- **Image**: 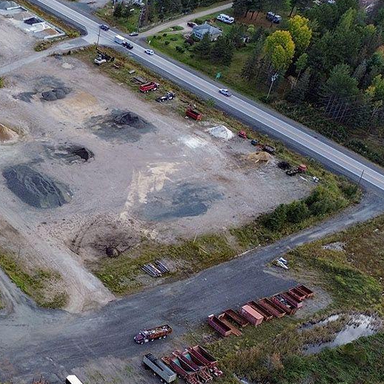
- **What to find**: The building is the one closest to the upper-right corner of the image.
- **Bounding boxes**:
[189,26,227,44]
